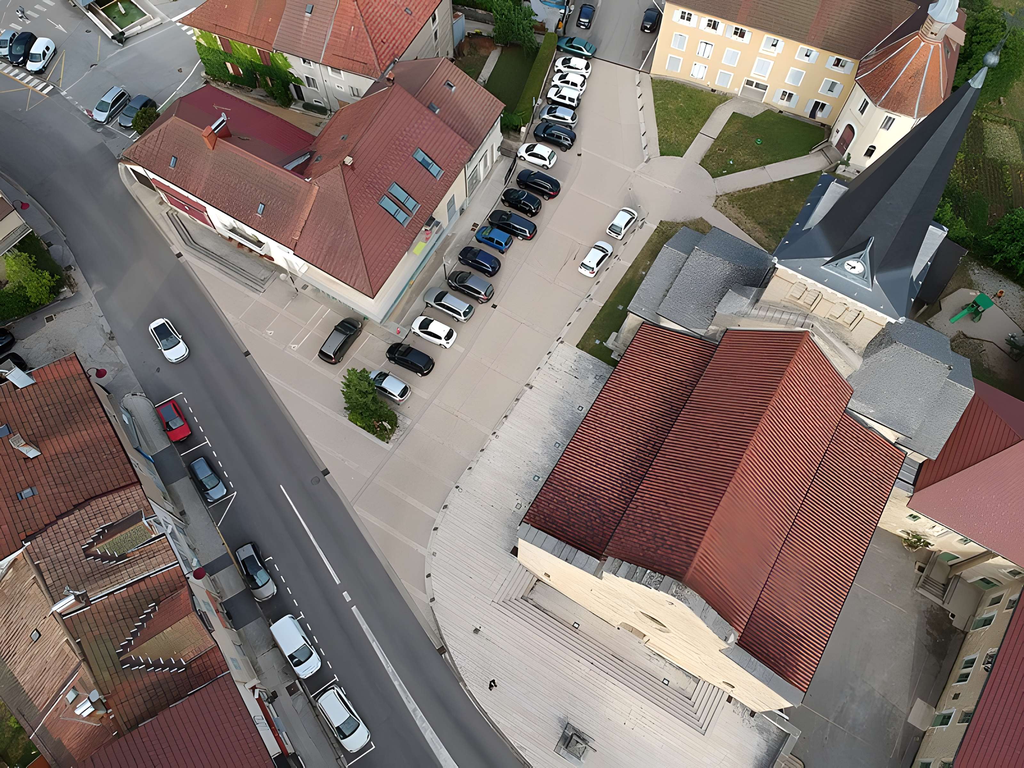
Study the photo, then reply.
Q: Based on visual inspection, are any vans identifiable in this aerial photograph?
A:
Yes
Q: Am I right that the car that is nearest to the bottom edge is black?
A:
No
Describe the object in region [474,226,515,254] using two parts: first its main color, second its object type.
blue car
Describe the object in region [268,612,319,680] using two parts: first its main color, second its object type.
white van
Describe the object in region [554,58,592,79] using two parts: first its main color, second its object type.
white car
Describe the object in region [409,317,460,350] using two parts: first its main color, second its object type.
white car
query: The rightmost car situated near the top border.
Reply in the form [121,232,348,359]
[638,9,660,35]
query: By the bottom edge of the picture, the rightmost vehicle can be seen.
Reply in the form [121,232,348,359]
[316,682,370,754]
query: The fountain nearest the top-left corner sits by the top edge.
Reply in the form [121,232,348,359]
[75,0,164,46]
